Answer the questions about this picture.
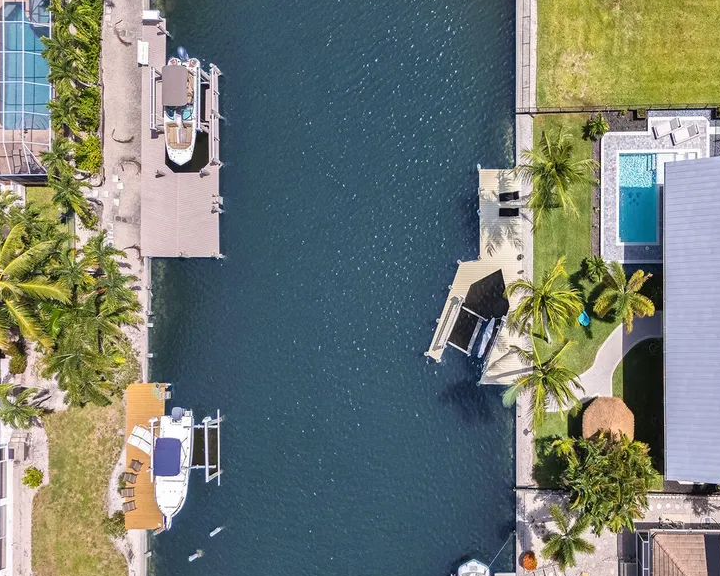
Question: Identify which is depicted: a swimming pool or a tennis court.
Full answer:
The one in the frame is a swimming pool.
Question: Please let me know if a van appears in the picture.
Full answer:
No, no van is visible in the view.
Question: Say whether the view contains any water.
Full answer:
Yes, some water is visible.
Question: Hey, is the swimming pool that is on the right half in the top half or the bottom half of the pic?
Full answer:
Seen from above, the swimming pool that is on the right half lies in the top half of the view.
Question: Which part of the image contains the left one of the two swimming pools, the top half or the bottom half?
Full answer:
Seen from above, the left one of the two swimming pools lies in the top half of the view.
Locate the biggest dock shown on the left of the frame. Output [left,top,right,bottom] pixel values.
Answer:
[141,18,225,258]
